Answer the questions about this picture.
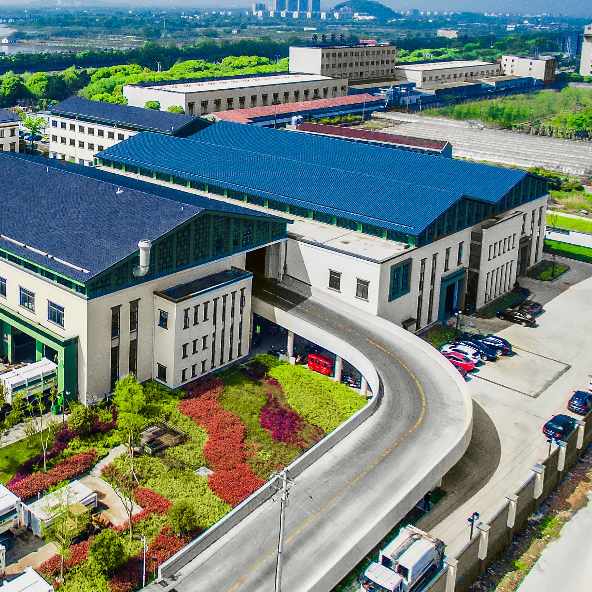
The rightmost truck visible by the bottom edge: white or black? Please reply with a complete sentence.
The color of the rightmost truck visible by the bottom edge is white.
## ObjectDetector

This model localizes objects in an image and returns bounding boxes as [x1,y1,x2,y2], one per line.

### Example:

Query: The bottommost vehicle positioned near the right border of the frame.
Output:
[544,408,578,438]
